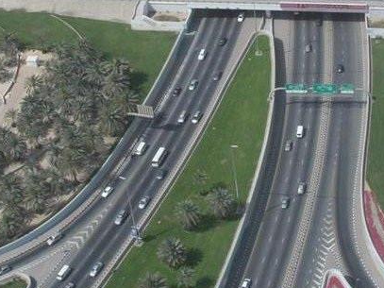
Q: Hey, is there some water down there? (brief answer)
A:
No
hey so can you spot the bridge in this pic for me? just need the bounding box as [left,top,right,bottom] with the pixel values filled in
[189,0,370,15]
